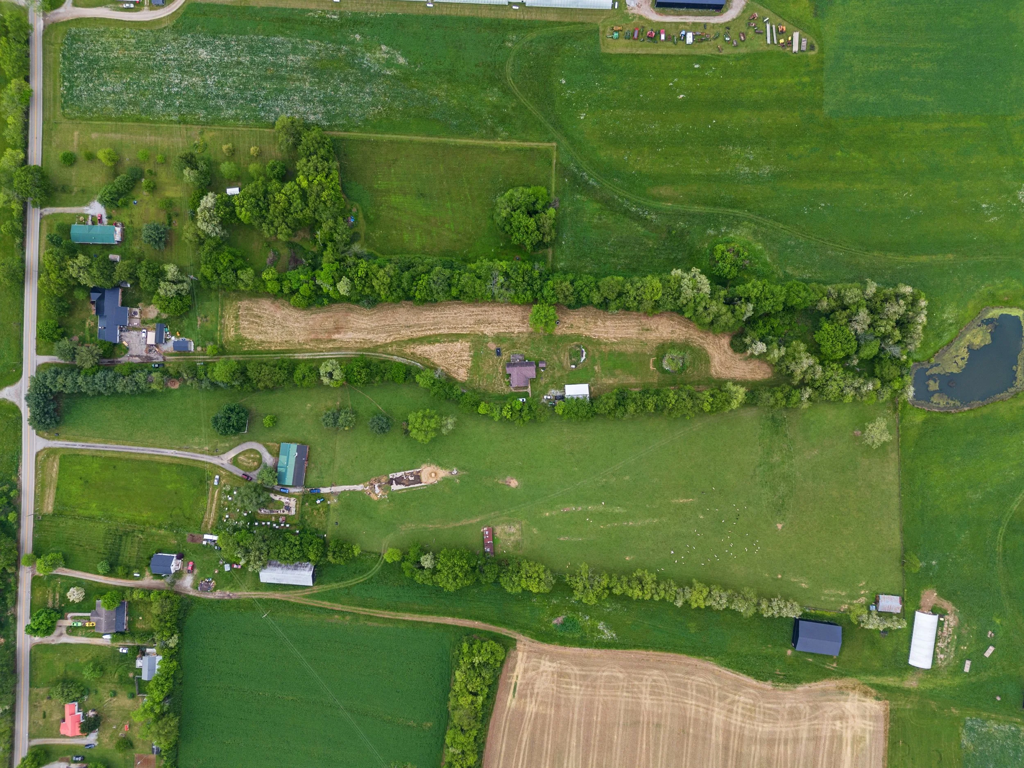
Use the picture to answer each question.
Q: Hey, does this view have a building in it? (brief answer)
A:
Yes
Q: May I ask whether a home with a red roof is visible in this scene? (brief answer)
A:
Yes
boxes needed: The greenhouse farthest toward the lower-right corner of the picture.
[908,612,940,671]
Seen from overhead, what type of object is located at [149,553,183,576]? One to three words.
house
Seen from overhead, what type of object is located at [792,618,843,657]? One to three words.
barn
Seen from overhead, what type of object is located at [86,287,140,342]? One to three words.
house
